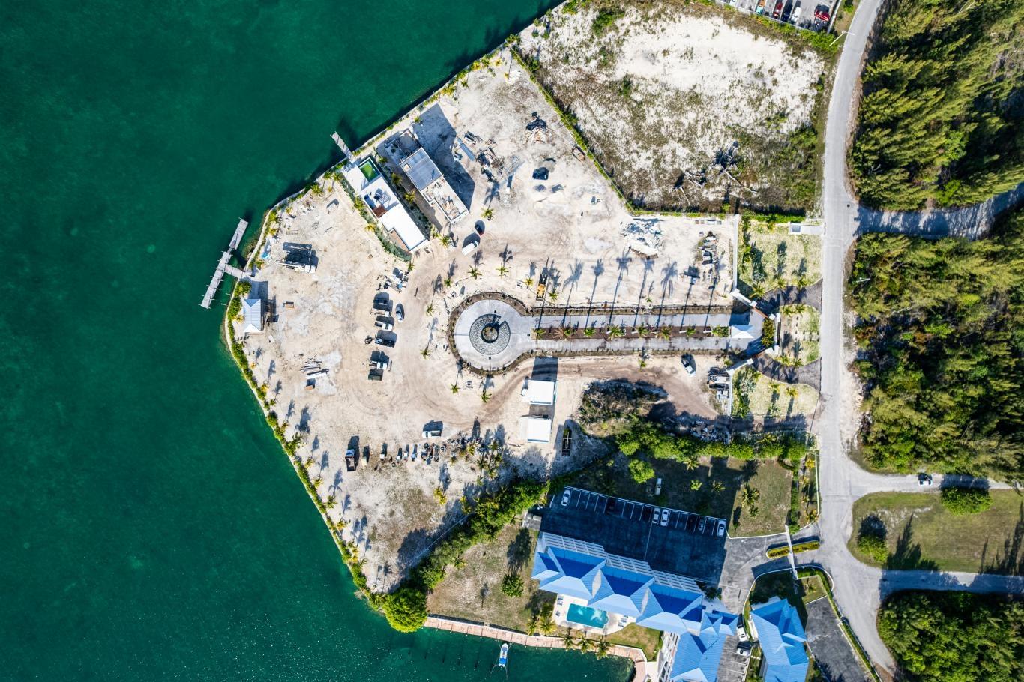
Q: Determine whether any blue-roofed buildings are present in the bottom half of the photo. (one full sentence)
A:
Yes, a blue-roofed building is visible in the bottom half of the photo.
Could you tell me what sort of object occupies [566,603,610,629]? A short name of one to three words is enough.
swimming pool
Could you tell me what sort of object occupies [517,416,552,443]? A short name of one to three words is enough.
building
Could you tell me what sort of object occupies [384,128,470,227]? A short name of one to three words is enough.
house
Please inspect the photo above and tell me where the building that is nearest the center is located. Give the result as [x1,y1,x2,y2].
[523,380,555,405]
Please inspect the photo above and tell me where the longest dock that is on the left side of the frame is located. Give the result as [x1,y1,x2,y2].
[198,218,251,309]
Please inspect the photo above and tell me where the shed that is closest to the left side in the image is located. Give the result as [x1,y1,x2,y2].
[243,298,265,332]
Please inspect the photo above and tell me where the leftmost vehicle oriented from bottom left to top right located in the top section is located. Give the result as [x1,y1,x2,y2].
[460,238,480,255]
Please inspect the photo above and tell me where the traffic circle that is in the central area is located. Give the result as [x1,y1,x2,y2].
[469,313,510,355]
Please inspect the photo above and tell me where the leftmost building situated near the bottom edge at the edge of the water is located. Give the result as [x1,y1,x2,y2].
[531,523,739,682]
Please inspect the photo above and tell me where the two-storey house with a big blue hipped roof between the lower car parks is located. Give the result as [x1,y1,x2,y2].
[746,593,809,682]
